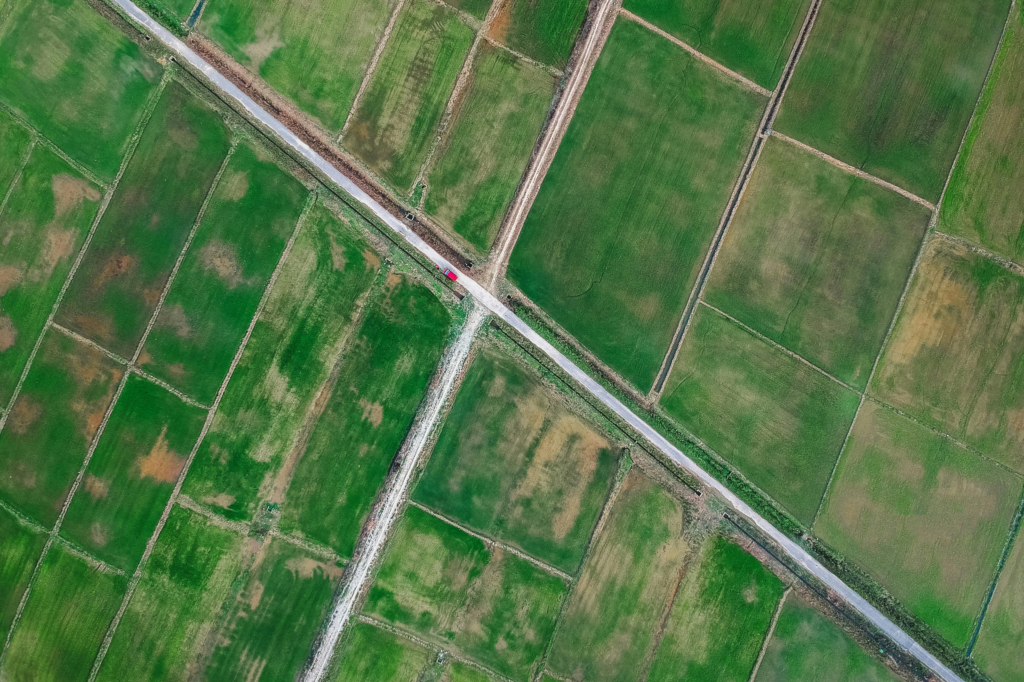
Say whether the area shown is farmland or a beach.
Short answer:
farmland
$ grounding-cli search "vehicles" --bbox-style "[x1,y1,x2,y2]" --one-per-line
[442,267,458,281]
